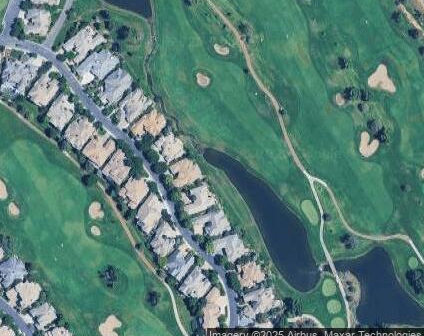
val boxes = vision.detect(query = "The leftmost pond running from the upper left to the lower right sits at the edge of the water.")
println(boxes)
[203,147,321,290]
